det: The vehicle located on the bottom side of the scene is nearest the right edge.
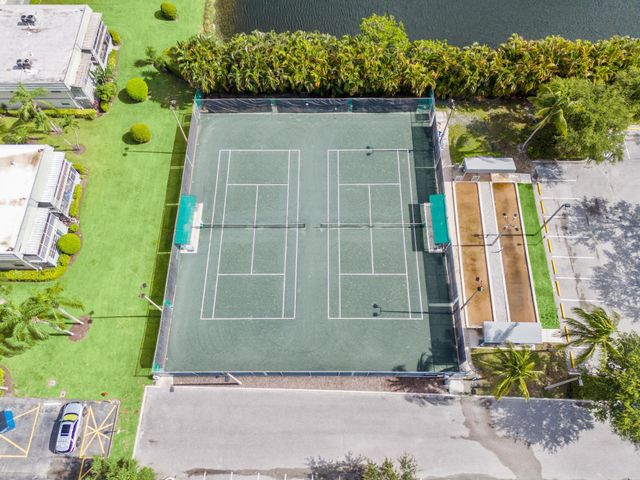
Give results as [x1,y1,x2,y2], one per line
[52,403,84,452]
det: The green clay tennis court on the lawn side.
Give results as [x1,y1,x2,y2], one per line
[166,112,314,375]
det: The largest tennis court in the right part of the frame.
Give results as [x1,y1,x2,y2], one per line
[311,112,461,376]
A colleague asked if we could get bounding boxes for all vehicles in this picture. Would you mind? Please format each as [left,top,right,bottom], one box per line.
[52,403,84,452]
[0,414,16,435]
